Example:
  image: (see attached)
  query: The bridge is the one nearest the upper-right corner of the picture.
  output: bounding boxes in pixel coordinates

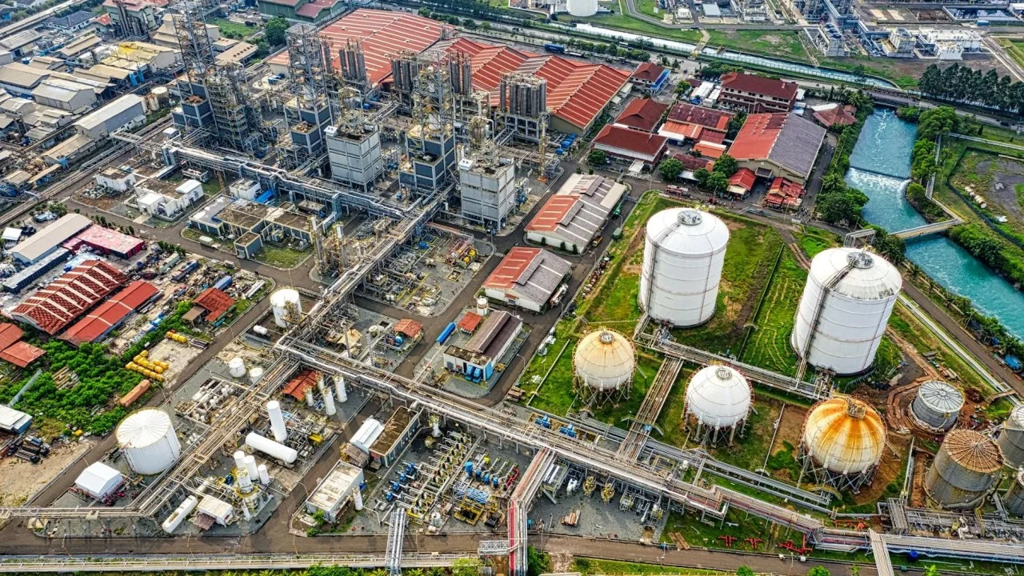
[855,86,935,108]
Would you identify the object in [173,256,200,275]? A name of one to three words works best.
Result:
vehicle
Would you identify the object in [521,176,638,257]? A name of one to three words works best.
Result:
building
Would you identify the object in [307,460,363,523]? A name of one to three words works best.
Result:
shed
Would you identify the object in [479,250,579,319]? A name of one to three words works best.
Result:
building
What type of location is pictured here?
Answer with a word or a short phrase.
industrial area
